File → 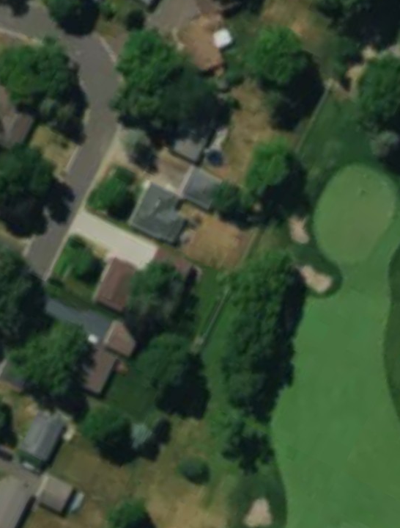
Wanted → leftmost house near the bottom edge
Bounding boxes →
[0,474,34,528]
